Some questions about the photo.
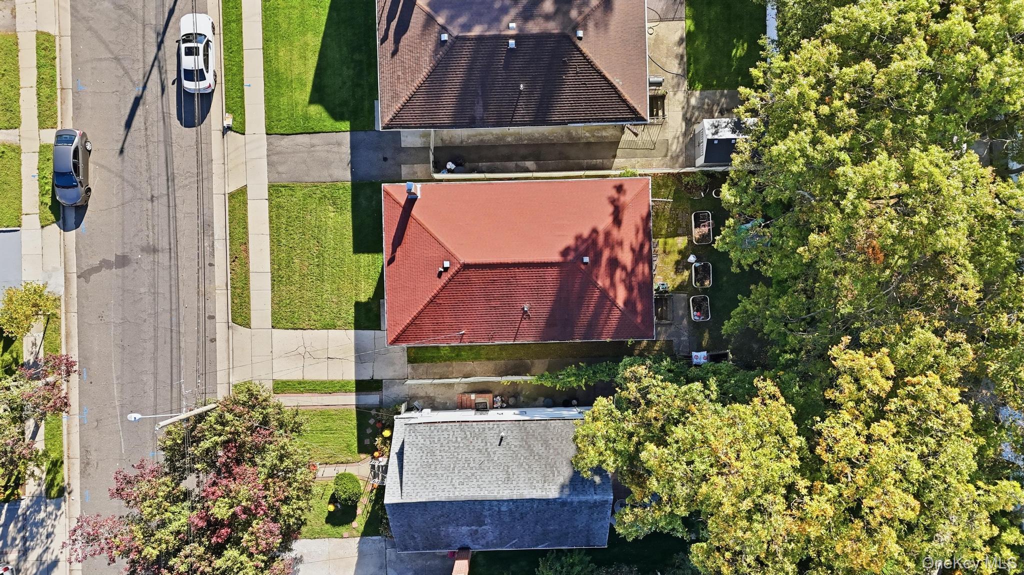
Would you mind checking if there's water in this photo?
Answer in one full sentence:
No, the picture contains no water.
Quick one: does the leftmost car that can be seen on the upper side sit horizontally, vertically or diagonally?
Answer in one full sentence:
The leftmost car that can be seen on the upper side runs vertically in the image.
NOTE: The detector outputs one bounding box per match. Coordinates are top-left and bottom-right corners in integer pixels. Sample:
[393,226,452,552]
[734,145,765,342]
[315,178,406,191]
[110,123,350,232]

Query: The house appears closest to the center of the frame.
[380,174,657,348]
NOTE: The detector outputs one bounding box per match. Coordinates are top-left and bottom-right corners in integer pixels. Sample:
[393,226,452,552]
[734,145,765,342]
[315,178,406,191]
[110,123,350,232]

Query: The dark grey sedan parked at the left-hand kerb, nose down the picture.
[50,127,91,206]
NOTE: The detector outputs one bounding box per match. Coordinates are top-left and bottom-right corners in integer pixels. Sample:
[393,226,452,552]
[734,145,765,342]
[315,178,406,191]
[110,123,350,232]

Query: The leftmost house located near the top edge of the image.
[374,0,651,132]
